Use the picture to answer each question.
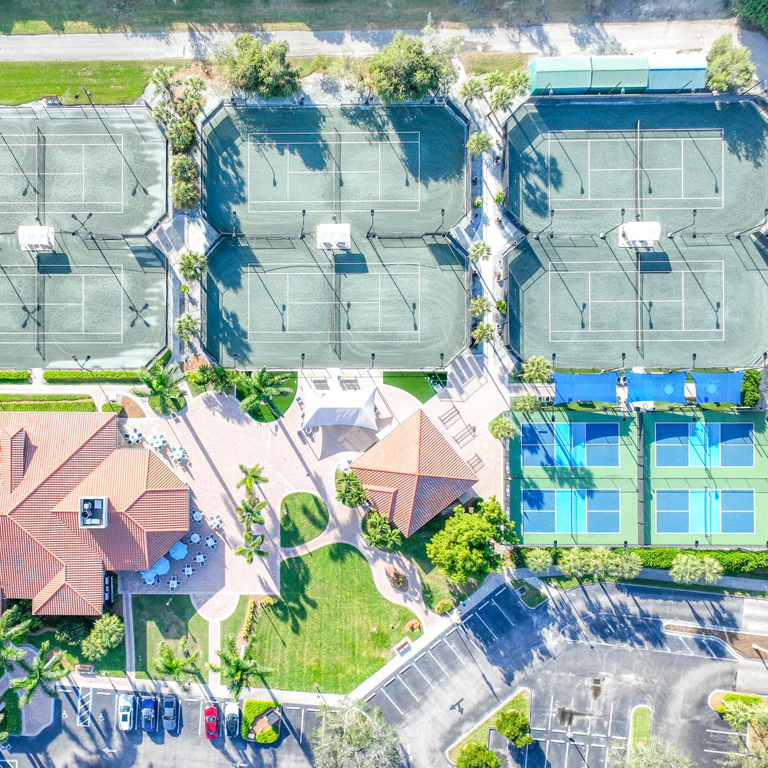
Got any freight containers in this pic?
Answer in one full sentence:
No, I can't see a single freight container in this photo.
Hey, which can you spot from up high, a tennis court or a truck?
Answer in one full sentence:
Visible in the photo is a tennis court.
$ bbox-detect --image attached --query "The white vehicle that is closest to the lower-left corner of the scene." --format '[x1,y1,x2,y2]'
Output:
[118,694,133,730]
